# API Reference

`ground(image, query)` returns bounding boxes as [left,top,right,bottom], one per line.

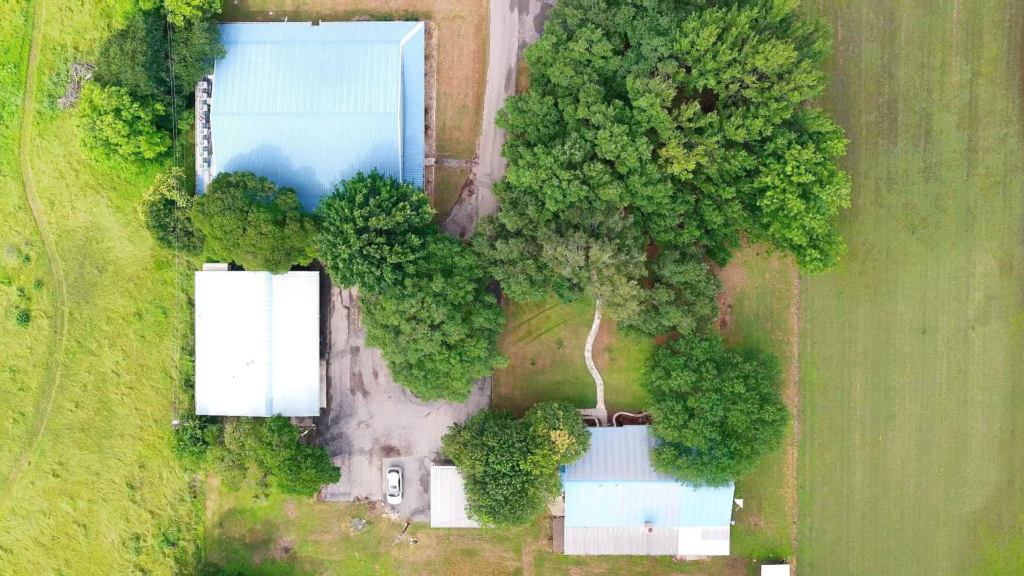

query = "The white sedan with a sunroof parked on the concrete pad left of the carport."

[386,467,403,504]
